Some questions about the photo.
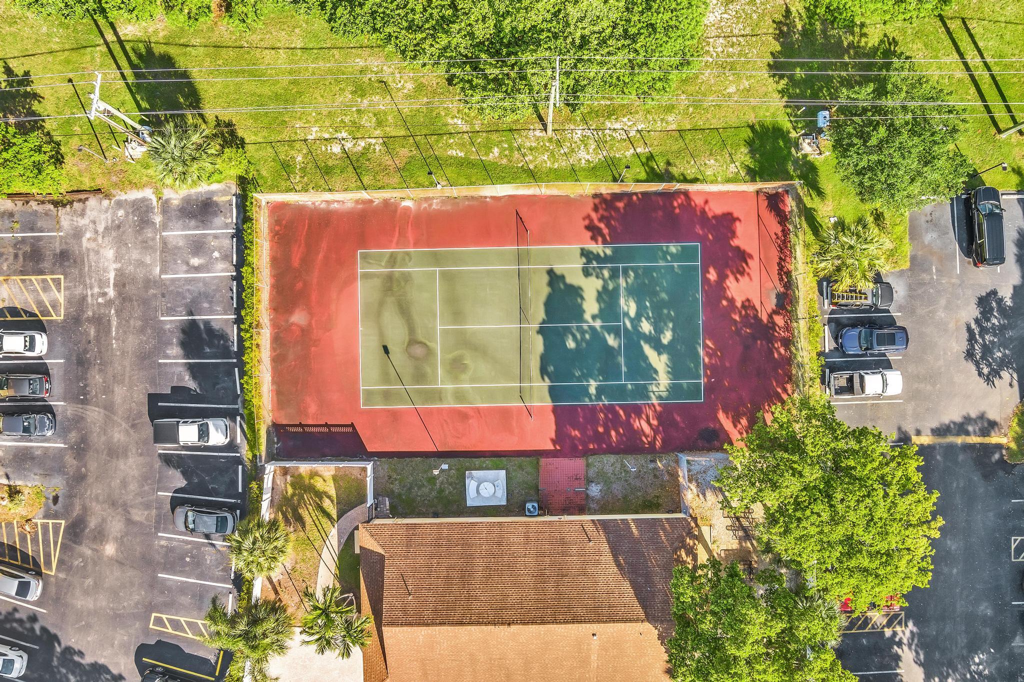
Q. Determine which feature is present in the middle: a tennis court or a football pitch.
tennis court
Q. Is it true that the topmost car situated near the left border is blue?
No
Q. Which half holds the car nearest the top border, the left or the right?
right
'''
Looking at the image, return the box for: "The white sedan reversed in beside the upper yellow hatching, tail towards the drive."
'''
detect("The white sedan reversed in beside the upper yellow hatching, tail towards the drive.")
[0,330,51,357]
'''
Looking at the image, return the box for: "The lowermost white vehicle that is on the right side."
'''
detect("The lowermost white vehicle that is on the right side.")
[827,367,901,399]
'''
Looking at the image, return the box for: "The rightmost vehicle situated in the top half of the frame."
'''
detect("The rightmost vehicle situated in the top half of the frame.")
[963,190,1008,268]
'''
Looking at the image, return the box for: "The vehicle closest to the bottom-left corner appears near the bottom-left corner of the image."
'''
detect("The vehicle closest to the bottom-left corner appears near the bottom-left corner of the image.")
[0,643,33,678]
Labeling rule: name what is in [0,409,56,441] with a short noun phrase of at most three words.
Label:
car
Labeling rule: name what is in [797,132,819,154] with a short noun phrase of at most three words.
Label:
building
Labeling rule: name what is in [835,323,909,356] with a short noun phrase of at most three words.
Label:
car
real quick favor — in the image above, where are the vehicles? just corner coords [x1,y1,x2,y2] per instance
[835,323,909,356]
[963,190,1008,268]
[0,371,53,403]
[822,279,892,311]
[175,503,241,536]
[0,409,56,441]
[827,367,901,399]
[142,668,206,682]
[0,330,51,357]
[0,643,33,678]
[0,560,48,601]
[151,416,232,449]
